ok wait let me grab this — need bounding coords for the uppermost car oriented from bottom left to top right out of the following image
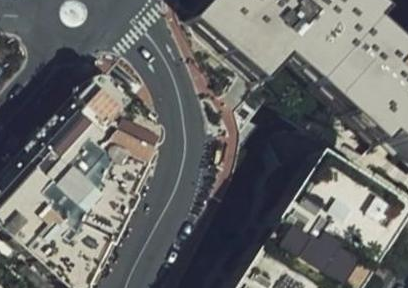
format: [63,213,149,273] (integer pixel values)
[6,80,22,96]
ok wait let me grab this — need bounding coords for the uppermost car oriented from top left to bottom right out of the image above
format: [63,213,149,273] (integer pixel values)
[138,45,153,62]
